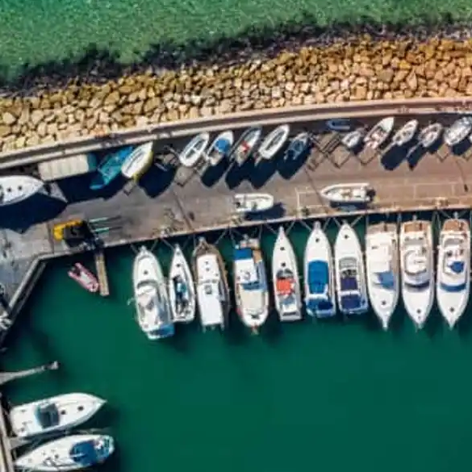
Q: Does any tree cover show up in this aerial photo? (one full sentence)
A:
No, no tree cover is visible.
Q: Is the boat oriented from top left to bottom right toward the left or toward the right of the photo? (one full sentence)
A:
The boat oriented from top left to bottom right sits on the left side.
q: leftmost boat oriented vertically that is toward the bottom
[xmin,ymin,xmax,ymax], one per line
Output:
[129,237,173,339]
